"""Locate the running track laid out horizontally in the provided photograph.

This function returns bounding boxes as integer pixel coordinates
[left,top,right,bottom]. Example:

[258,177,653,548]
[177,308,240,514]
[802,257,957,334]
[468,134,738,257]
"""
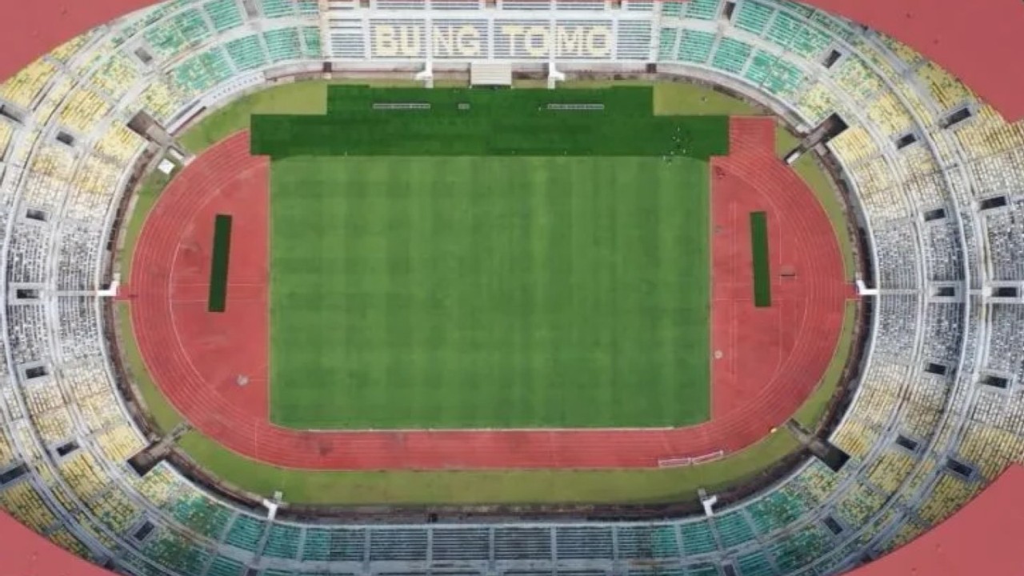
[116,118,859,469]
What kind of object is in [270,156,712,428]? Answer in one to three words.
soccer field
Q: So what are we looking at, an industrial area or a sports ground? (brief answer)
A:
sports ground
